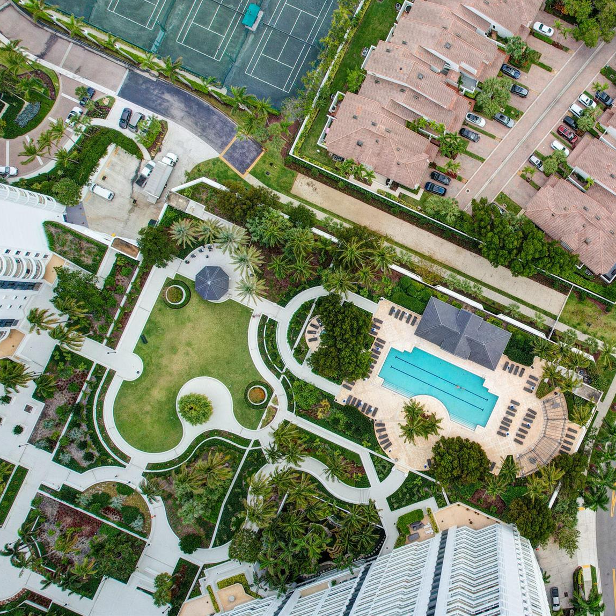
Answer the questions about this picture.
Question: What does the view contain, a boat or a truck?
truck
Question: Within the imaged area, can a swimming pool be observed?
Yes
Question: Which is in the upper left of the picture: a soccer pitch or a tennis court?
tennis court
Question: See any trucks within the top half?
Yes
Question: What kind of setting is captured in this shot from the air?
residential area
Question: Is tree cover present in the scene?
Yes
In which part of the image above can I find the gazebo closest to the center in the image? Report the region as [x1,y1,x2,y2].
[195,266,232,299]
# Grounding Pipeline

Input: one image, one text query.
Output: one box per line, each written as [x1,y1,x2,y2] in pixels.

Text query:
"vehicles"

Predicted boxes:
[532,21,555,38]
[596,91,614,107]
[568,103,586,118]
[143,156,176,201]
[65,107,83,127]
[133,160,156,187]
[466,112,487,127]
[424,181,446,196]
[549,140,571,155]
[561,115,578,131]
[128,112,144,133]
[577,93,598,105]
[89,184,115,201]
[494,112,516,129]
[527,153,544,171]
[429,170,453,186]
[556,124,578,144]
[460,128,481,143]
[511,84,529,98]
[0,164,18,176]
[500,63,522,79]
[118,107,133,128]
